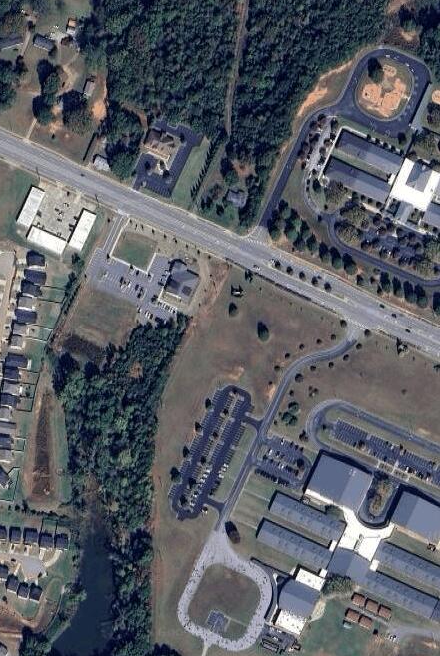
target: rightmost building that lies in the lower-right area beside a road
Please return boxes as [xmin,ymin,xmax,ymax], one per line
[391,493,440,552]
